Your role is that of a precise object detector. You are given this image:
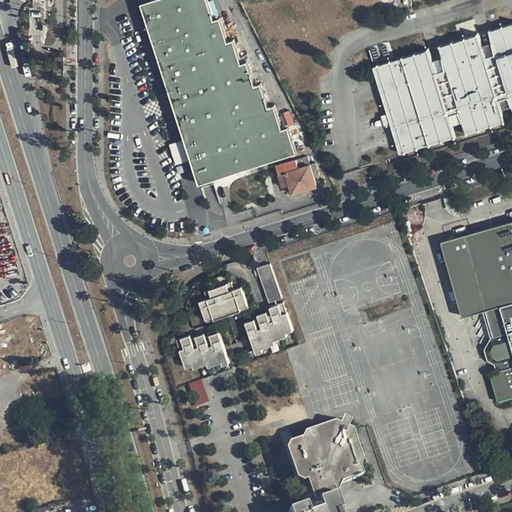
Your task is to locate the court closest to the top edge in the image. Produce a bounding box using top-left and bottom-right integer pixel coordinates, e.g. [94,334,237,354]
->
[335,262,400,308]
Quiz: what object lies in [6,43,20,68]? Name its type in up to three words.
vehicle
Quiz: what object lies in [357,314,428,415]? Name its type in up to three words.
sports court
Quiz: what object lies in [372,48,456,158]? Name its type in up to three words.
building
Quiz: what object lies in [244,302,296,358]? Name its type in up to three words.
building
